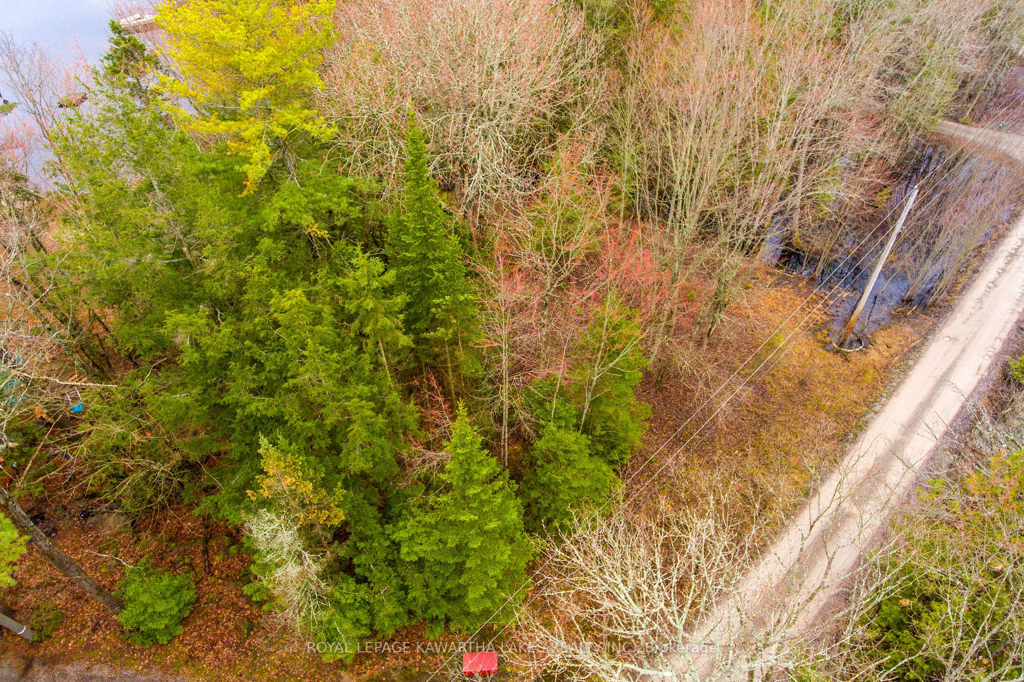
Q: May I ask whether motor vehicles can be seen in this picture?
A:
No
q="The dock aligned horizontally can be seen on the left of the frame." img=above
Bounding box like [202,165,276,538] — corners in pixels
[110,5,183,33]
